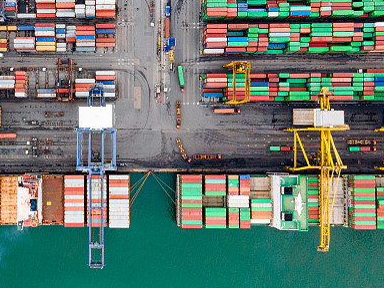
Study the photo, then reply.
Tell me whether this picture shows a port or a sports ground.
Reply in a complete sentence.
What you see here is a port.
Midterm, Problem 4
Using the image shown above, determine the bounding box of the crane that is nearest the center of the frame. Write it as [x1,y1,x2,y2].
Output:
[220,61,250,104]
